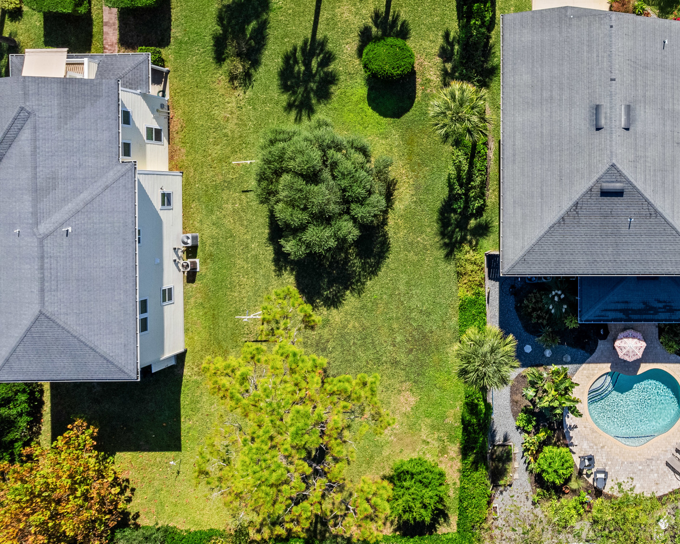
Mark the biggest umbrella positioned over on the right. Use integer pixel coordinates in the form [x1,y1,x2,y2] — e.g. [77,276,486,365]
[615,328,646,358]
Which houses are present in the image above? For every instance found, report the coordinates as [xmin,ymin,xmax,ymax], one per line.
[0,51,184,383]
[499,7,680,325]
